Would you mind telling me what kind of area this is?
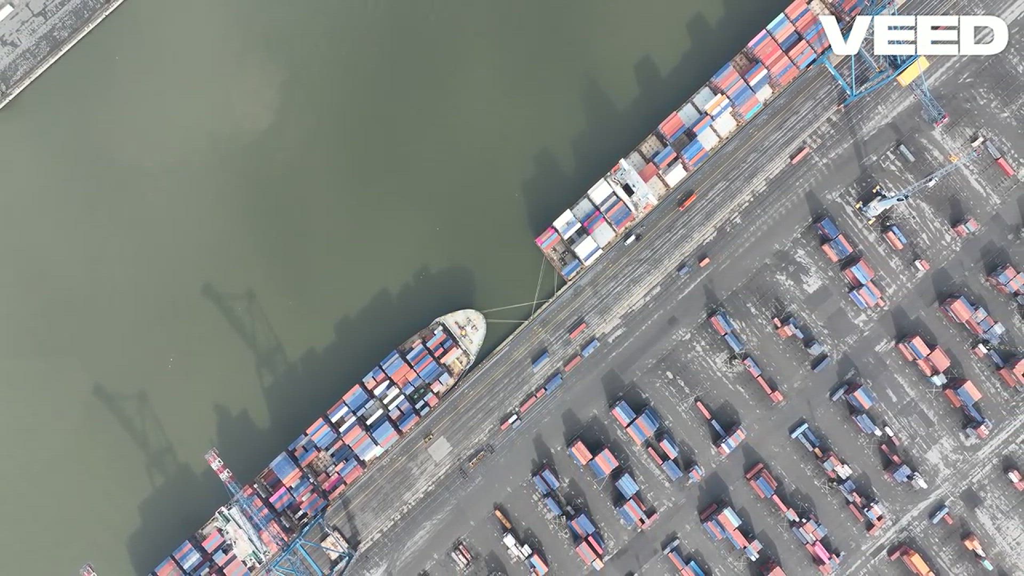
port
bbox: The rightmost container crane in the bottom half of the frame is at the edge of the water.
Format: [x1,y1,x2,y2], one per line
[206,450,361,576]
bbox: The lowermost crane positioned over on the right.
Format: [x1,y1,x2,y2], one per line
[856,145,983,224]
